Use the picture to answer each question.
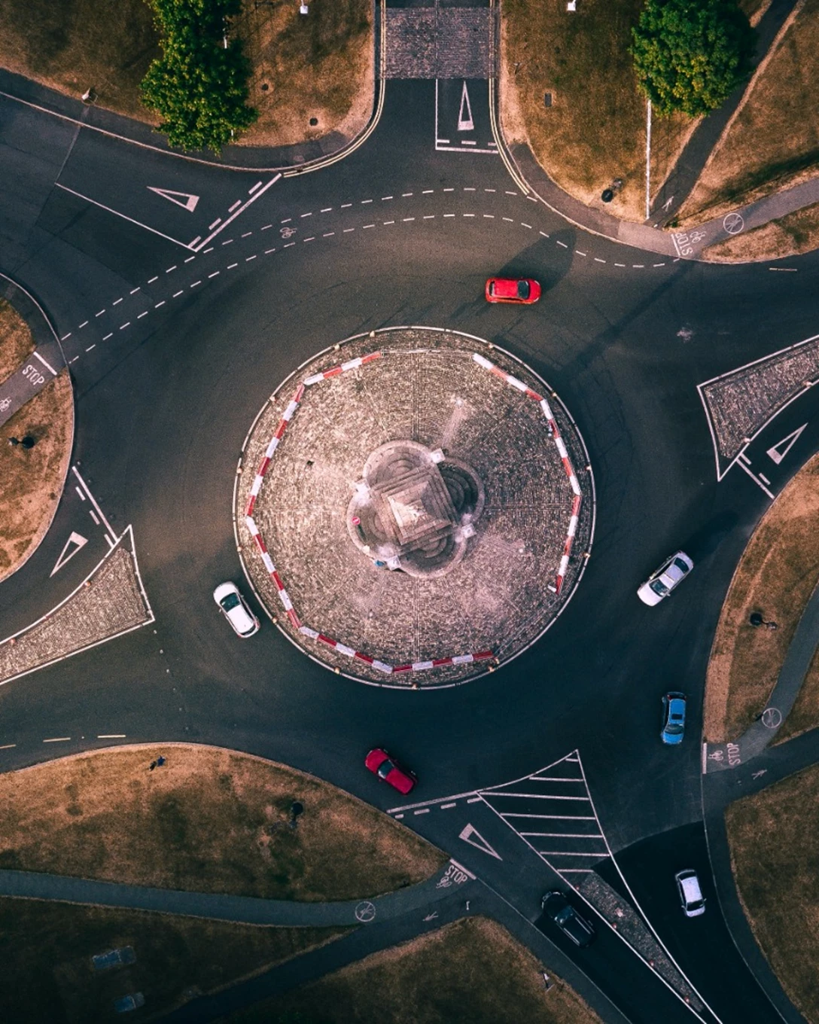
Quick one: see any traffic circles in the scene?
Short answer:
Yes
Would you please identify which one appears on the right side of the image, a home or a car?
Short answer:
car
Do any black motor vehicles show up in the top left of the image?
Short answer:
No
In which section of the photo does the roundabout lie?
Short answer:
center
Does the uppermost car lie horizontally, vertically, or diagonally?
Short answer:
horizontally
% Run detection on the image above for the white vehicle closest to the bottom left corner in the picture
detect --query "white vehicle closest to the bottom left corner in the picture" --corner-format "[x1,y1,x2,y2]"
[217,583,258,637]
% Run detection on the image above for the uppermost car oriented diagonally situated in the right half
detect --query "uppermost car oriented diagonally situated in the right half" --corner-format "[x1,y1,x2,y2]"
[641,552,693,603]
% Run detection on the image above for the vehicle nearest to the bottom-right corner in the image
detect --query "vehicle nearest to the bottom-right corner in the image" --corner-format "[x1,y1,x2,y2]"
[675,867,706,914]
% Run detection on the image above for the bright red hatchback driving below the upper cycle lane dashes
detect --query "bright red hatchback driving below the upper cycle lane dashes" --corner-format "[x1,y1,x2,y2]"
[486,277,540,304]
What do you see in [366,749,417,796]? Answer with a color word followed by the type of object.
red car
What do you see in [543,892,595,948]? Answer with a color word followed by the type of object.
black car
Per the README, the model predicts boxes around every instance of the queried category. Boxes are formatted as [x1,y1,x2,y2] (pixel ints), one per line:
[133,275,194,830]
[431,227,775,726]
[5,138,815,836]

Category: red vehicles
[366,749,417,796]
[486,277,540,304]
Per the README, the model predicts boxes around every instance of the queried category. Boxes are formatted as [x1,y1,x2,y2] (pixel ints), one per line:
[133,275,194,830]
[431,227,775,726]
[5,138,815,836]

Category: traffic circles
[62,189,725,818]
